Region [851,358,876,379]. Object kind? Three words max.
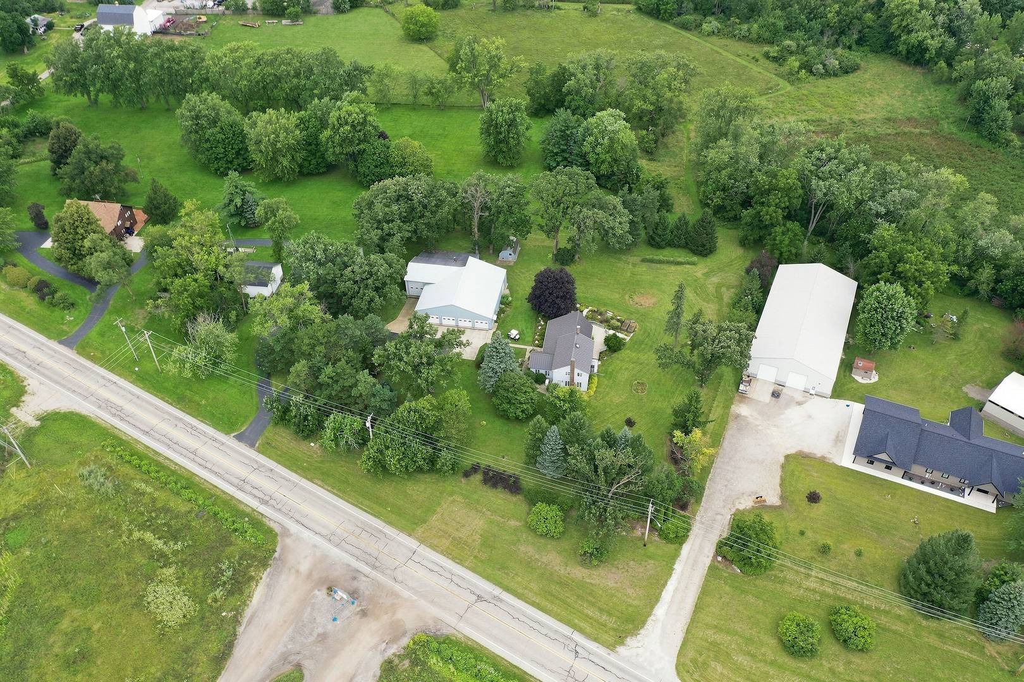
shed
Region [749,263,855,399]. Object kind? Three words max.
barn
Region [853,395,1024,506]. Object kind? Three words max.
house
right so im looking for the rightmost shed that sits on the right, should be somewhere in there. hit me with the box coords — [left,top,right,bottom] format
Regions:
[982,376,1024,431]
